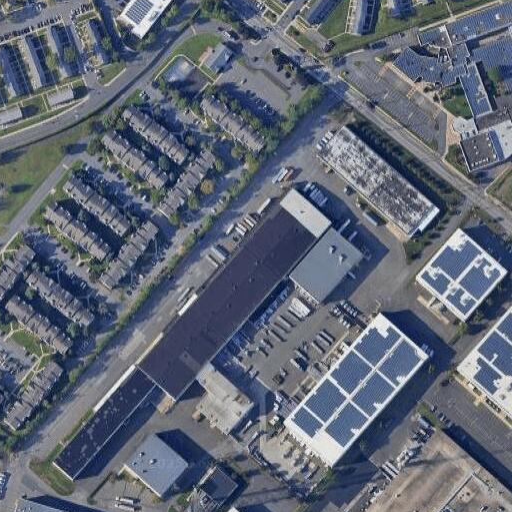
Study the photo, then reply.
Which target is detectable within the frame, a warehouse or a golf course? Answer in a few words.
warehouse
